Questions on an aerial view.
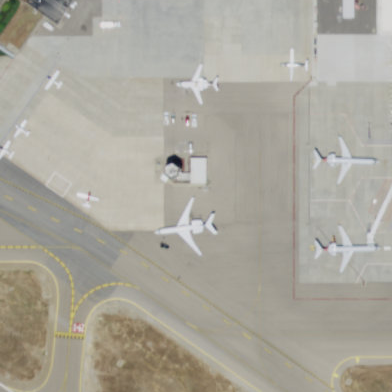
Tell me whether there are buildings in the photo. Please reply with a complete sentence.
Yes, a building appears in the view.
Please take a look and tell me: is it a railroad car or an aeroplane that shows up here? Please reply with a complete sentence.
I can see an aeroplane in this picture.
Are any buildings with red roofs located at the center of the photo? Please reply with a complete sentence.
No, I see no building with a red roof at the center of the photo.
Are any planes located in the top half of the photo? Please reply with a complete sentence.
Yes, a plane is visible in the top half of the photo.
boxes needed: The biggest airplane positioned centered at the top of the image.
[176,64,219,104]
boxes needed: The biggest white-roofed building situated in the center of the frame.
[176,156,208,184]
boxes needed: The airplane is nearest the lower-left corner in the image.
[77,190,100,204]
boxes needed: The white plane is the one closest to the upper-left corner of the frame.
[46,70,62,90]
